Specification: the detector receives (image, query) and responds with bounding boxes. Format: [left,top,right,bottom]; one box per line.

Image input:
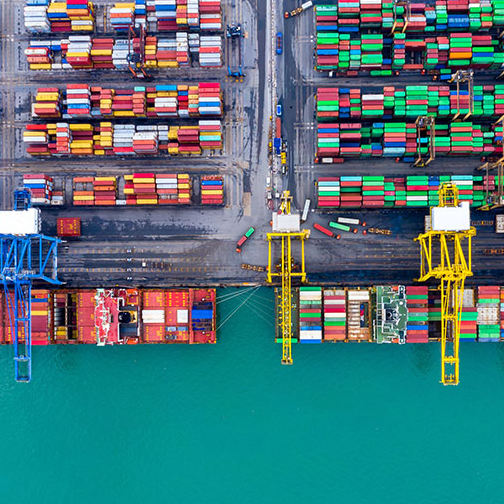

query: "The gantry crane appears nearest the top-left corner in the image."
[128,23,153,80]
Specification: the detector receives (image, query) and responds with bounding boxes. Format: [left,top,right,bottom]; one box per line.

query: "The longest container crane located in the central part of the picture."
[263,185,309,365]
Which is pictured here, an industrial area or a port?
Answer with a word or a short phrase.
port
